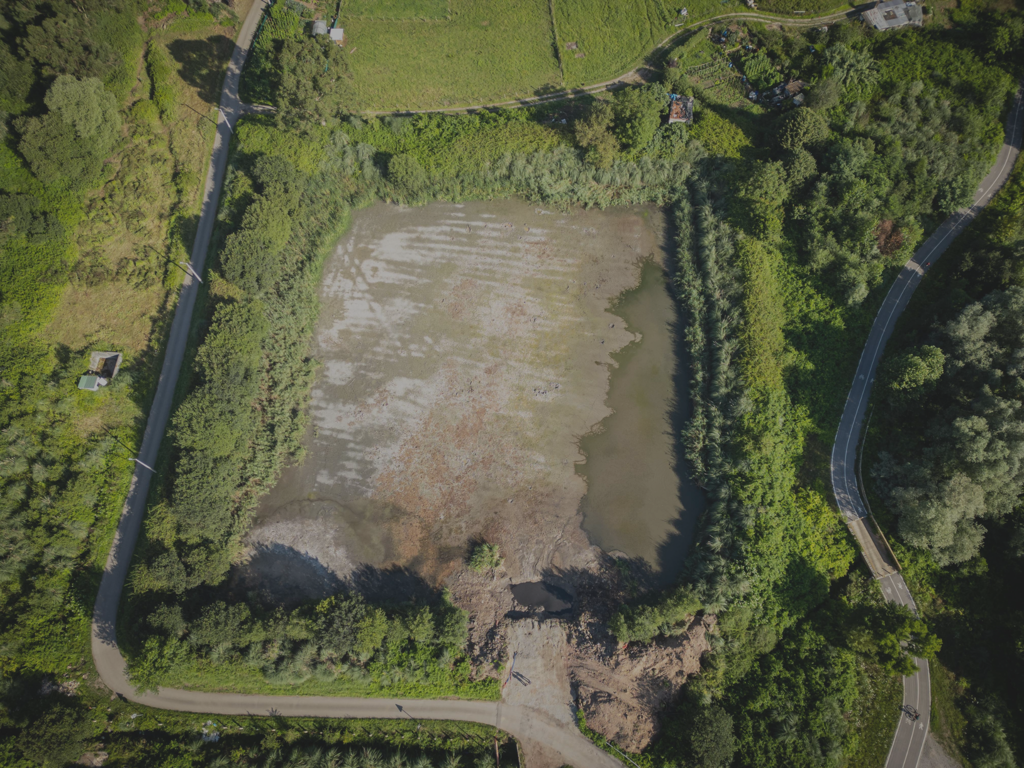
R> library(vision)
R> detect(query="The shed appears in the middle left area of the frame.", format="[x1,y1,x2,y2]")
[79,376,104,393]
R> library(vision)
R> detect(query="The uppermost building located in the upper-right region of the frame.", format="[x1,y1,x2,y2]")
[859,0,923,34]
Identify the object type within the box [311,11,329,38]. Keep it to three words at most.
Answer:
greenhouse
